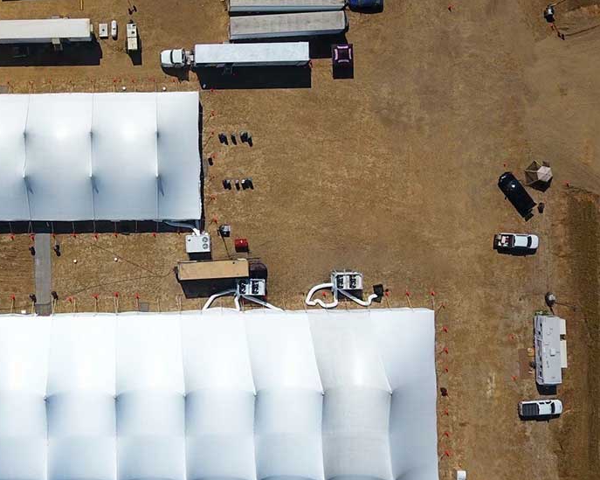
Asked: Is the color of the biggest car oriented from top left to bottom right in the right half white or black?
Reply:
black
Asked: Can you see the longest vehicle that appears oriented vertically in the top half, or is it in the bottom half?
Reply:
bottom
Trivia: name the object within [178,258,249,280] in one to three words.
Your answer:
trailer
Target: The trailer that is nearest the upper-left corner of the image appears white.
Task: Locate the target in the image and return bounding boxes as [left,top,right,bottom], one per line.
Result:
[0,18,94,55]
